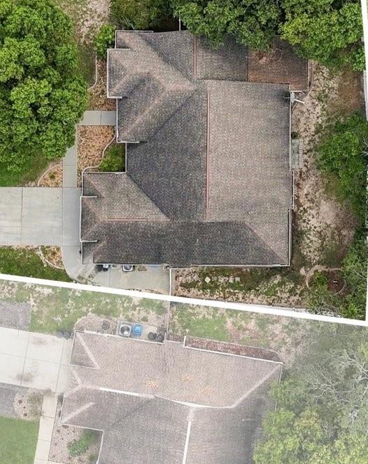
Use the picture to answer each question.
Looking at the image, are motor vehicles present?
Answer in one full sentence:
No, there is no motor vehicle in the image.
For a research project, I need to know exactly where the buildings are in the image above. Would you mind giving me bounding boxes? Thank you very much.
[61,330,284,464]
[79,29,310,270]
